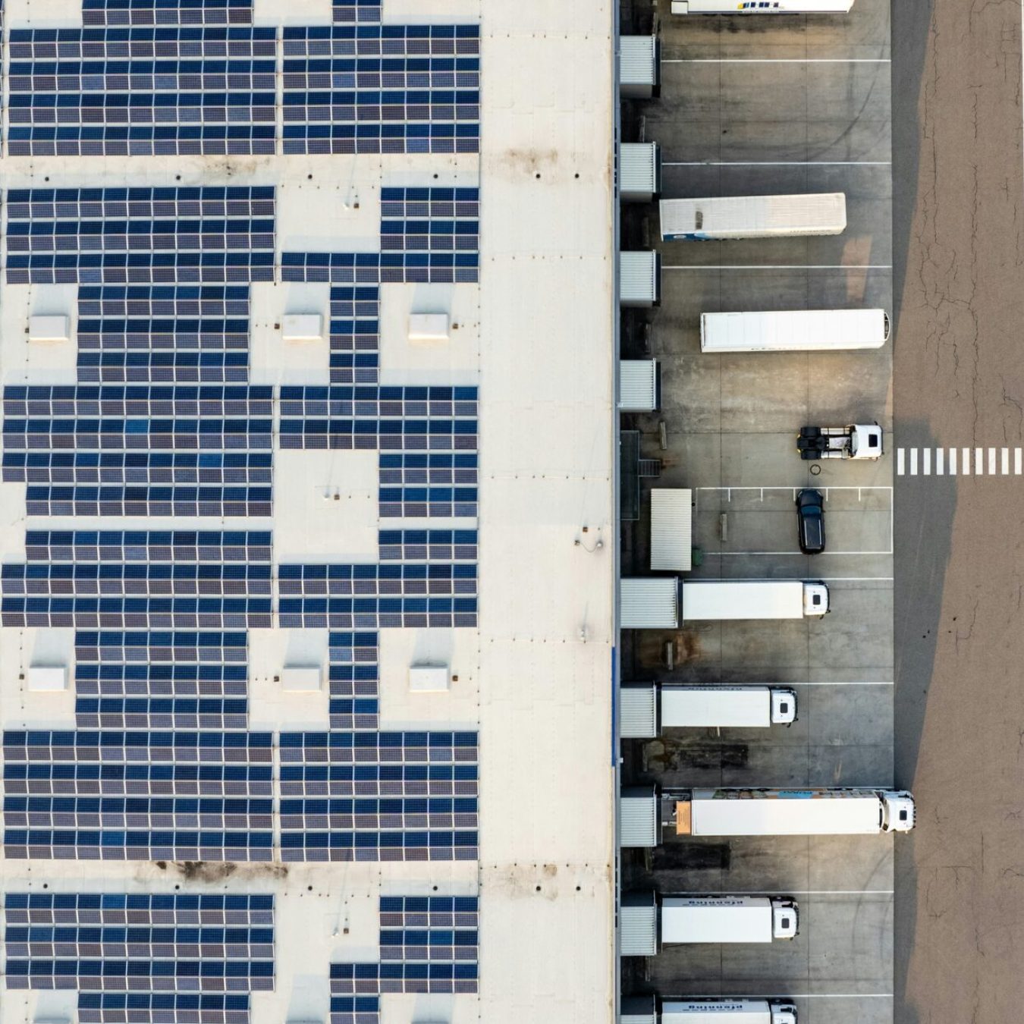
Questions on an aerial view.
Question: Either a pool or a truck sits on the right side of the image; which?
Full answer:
Looking on the right side of the image, you will find a truck.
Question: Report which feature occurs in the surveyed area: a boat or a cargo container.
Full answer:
There is a cargo container in the scene.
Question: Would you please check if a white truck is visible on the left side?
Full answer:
No, no white truck can be made out on the left side.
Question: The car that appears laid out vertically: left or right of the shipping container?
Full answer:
It is on the right side of the shipping container that the car that appears laid out vertically is positioned.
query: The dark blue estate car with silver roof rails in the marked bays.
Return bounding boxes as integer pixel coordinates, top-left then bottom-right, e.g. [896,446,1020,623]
[795,489,826,554]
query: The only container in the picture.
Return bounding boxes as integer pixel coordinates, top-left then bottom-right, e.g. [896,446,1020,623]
[648,489,691,570]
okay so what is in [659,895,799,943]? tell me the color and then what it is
white truck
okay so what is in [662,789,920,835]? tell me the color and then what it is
white truck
